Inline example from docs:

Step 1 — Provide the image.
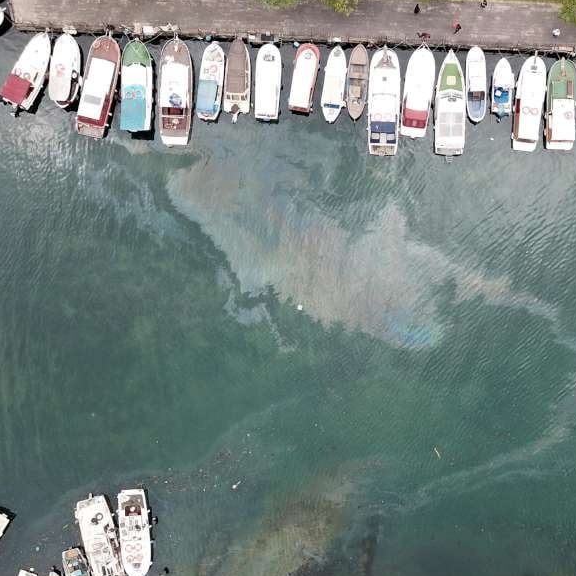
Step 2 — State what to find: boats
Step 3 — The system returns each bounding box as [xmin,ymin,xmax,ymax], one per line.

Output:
[73,28,121,142]
[74,493,124,576]
[542,52,576,151]
[0,28,50,118]
[223,34,254,119]
[17,566,39,576]
[193,40,225,123]
[318,46,349,125]
[46,34,83,111]
[430,49,467,164]
[156,30,196,149]
[285,41,322,116]
[363,40,401,158]
[346,43,368,126]
[114,33,157,137]
[253,41,284,127]
[490,58,514,122]
[509,49,548,153]
[398,40,436,140]
[63,545,89,576]
[464,47,487,125]
[117,487,157,576]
